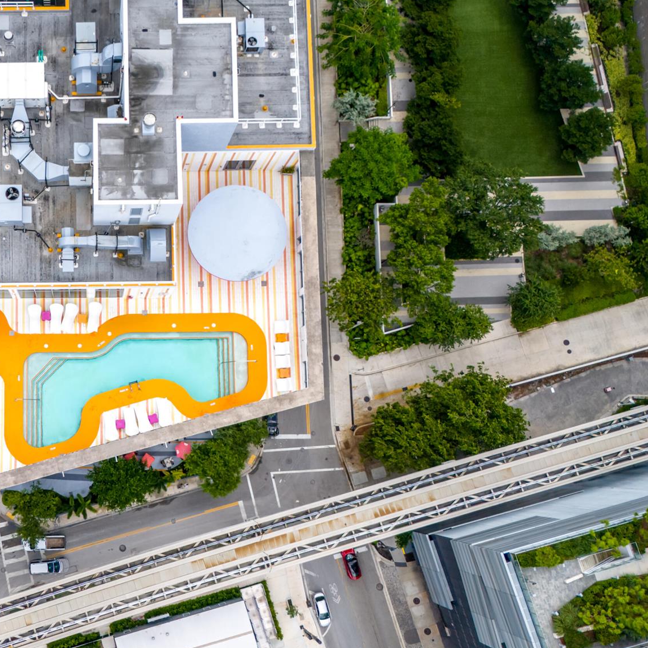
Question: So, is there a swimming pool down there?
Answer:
Yes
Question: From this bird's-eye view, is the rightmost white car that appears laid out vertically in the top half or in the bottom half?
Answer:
bottom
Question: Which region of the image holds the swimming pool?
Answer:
left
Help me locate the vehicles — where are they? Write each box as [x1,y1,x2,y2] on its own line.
[30,557,69,575]
[310,589,331,629]
[339,549,362,582]
[263,407,281,443]
[23,534,67,551]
